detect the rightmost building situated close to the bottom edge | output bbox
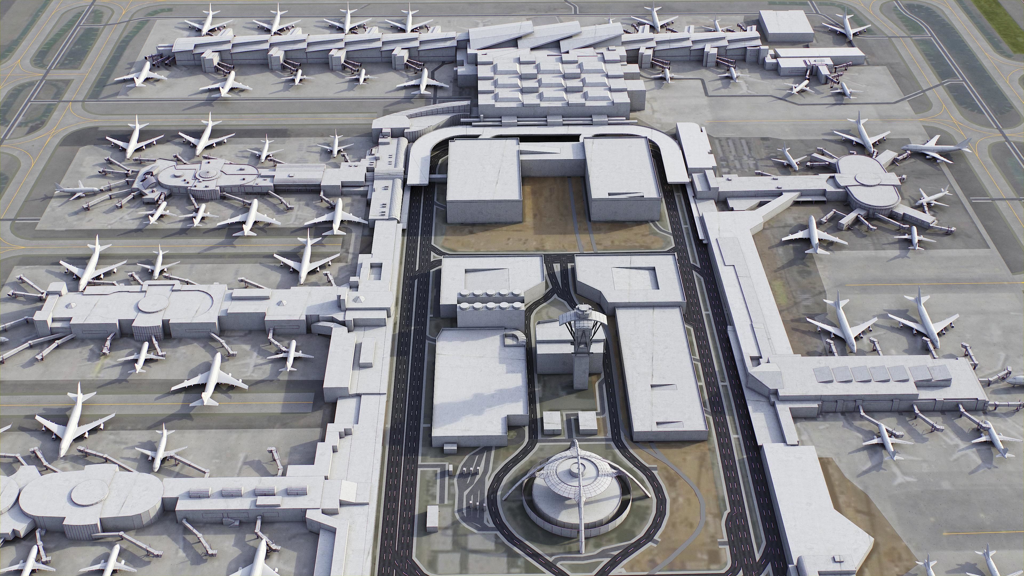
[761,443,875,576]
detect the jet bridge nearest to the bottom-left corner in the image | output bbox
[37,529,54,566]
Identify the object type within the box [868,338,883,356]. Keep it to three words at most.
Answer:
jet bridge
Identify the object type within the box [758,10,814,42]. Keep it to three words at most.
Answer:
hangar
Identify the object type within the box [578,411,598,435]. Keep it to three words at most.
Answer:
building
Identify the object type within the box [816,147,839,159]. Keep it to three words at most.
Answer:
jet bridge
